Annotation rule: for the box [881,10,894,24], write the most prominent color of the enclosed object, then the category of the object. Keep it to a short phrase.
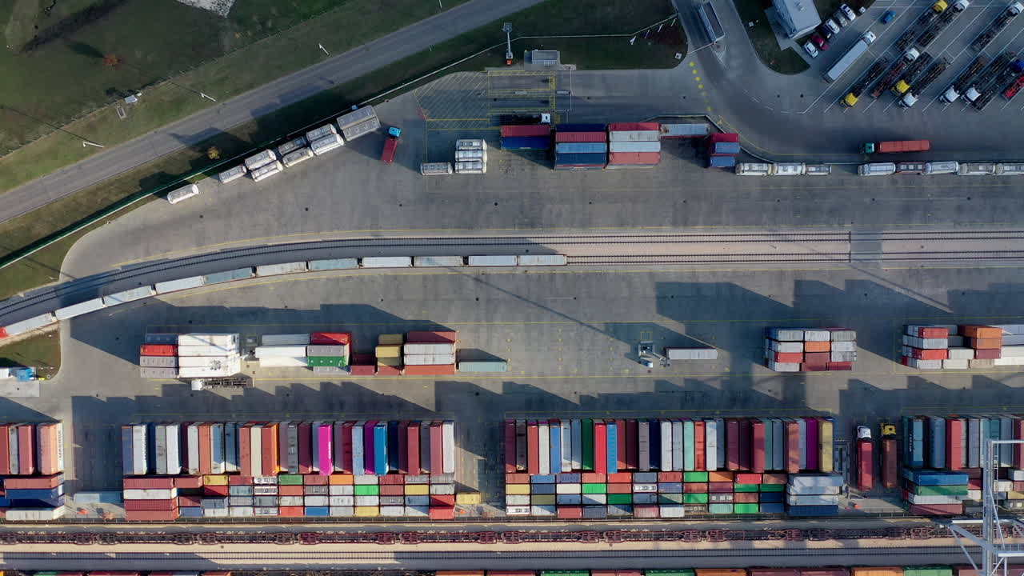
blue vehicle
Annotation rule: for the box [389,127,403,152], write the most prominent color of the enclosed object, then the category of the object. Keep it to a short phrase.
blue vehicle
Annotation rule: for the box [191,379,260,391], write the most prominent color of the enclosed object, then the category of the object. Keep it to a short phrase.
white vehicle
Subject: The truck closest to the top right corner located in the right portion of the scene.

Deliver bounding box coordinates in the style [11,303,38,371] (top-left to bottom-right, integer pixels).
[966,1,1024,56]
